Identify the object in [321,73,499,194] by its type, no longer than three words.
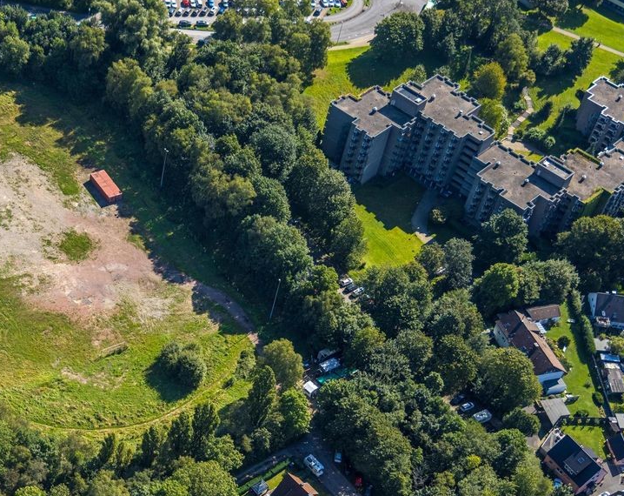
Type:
building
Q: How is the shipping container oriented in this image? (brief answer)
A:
on a diagonal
